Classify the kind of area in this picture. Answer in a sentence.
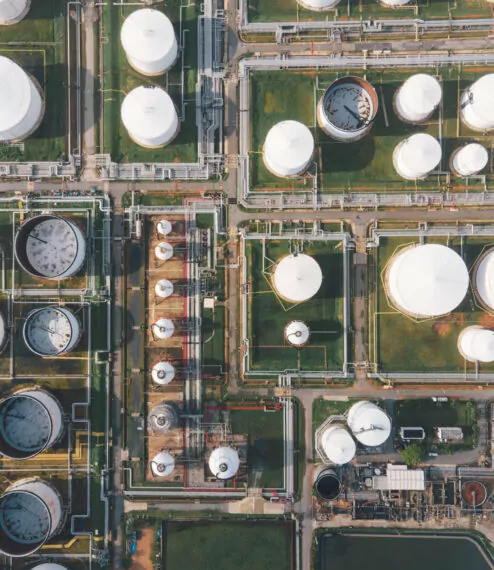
The area seen from above is an industrial area.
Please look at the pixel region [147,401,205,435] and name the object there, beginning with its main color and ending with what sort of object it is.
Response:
gray storage tank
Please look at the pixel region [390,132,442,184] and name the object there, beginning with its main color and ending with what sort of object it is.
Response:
white storage tank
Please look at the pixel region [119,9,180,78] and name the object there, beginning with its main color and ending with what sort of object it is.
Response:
white storage tank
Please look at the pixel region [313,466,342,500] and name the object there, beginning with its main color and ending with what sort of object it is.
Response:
black storage tank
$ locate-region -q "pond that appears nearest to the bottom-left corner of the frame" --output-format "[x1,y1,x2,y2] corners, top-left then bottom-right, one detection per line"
[164,522,292,570]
